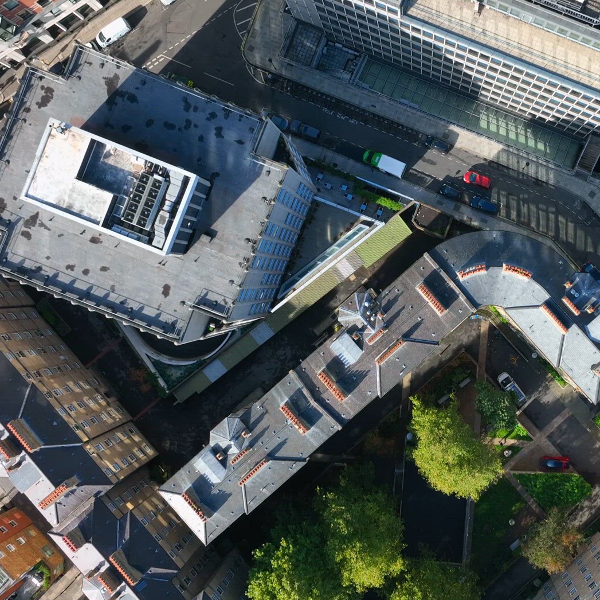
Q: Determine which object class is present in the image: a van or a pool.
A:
van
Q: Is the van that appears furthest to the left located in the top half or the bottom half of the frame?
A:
top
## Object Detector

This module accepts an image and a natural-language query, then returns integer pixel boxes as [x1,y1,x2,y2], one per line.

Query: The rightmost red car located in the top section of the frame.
[460,169,495,190]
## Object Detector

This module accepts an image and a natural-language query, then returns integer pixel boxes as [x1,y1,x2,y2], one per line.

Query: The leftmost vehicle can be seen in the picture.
[95,15,132,51]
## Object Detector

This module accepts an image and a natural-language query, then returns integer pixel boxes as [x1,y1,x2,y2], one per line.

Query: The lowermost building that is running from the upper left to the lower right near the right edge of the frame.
[427,230,600,404]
